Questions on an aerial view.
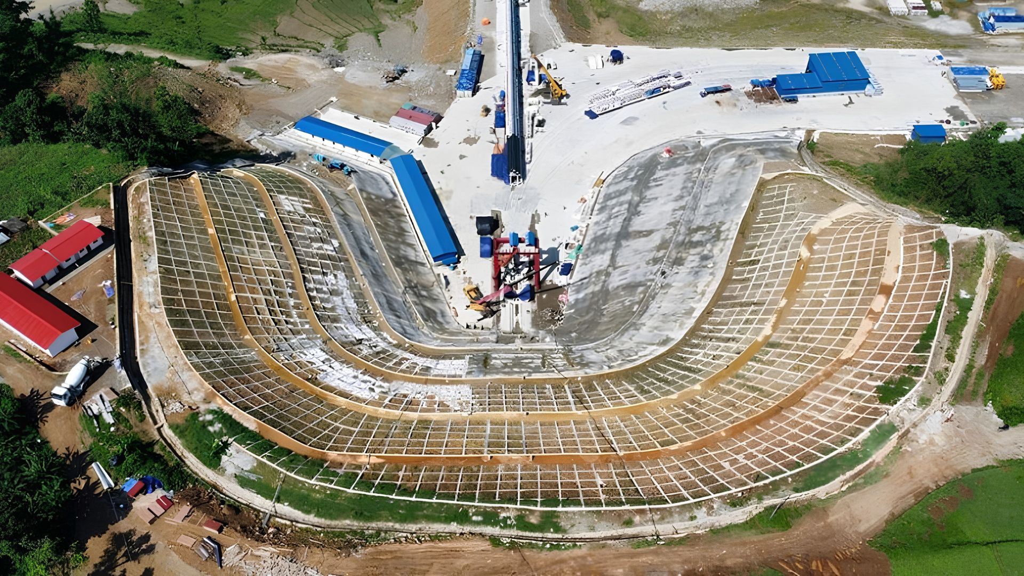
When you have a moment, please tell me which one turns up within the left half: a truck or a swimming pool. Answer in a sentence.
The feature located within the left half is a truck.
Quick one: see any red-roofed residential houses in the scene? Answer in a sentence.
Yes, looking at the shot, I can spot a red-roofed residential house.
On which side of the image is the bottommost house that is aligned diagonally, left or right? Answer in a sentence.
The bottommost house that is aligned diagonally appears in the left half of the scene.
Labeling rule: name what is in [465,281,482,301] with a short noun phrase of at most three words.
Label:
work vehicle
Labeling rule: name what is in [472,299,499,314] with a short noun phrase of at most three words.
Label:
work vehicle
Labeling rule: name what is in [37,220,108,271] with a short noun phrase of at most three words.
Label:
house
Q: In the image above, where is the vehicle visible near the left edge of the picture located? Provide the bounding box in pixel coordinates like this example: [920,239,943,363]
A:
[46,349,102,397]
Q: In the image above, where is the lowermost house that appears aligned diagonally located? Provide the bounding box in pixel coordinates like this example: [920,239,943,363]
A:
[0,280,83,356]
